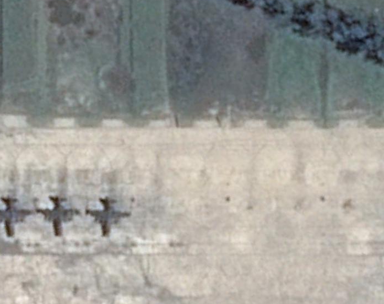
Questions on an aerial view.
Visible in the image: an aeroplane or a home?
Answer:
aeroplane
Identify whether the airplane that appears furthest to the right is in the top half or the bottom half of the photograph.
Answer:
bottom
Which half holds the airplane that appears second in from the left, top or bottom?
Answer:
bottom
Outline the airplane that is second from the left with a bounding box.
[39,196,79,235]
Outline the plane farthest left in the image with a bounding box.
[0,198,32,239]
